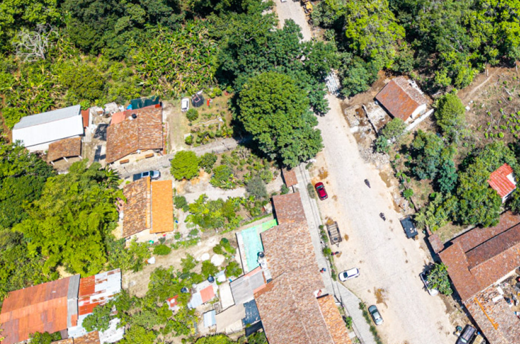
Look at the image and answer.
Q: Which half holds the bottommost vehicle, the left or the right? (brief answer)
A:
right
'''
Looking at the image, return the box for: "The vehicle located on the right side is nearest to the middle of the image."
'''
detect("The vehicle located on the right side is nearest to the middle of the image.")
[314,181,327,199]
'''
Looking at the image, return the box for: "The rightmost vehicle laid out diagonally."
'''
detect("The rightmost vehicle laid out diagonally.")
[456,323,476,344]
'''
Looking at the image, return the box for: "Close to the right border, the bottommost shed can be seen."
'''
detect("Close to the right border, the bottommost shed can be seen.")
[464,288,520,344]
